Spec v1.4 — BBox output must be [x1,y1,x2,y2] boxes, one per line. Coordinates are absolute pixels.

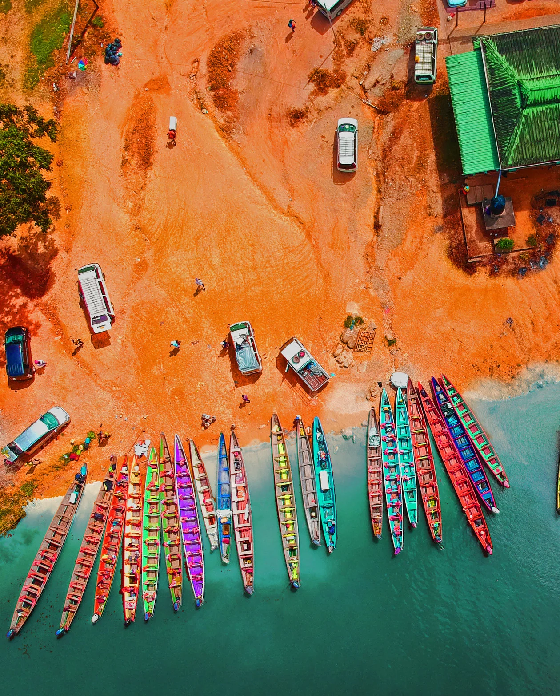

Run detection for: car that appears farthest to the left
[2,319,38,379]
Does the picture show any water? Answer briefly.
Yes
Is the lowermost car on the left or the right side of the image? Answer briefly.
left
